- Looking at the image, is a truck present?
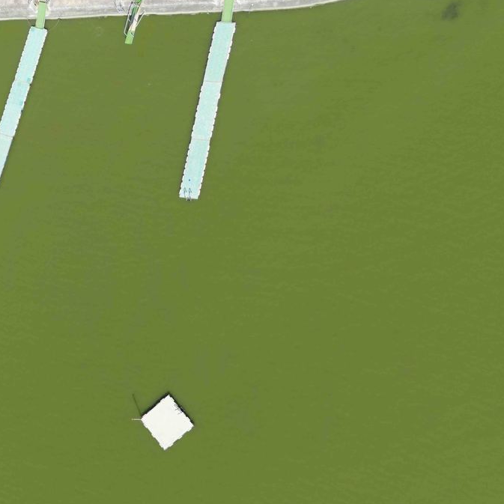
No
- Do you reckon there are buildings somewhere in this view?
No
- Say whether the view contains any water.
Yes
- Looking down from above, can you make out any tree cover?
No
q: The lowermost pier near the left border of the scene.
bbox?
[0,27,48,186]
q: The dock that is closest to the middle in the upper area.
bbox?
[180,22,236,201]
